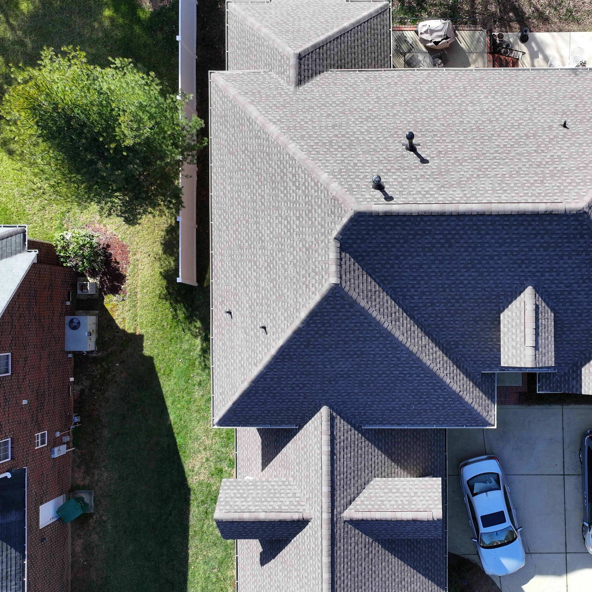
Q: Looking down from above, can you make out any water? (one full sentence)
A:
No, there is no water in the image.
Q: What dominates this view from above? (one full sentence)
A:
The largest share of the image is taken up by buildings.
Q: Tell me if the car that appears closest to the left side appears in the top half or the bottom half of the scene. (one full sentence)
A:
The car that appears closest to the left side is in the bottom half of the image.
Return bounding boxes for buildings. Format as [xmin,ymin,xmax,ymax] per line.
[206,0,592,592]
[0,221,75,592]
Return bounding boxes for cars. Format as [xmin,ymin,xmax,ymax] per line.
[460,453,527,577]
[579,431,592,553]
